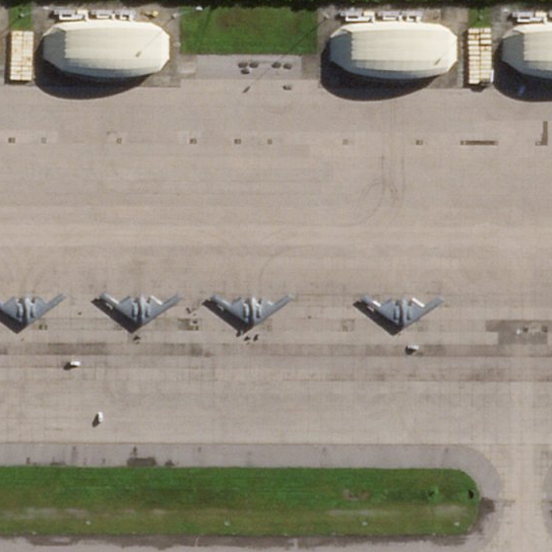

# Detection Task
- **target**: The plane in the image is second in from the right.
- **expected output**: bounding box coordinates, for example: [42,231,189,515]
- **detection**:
[209,293,295,325]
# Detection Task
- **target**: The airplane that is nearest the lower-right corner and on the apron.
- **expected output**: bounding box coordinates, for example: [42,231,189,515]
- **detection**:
[360,295,444,327]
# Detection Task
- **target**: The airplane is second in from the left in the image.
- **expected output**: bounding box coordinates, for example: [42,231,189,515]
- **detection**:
[98,293,183,325]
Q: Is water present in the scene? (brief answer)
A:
No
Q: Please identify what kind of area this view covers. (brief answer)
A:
airport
